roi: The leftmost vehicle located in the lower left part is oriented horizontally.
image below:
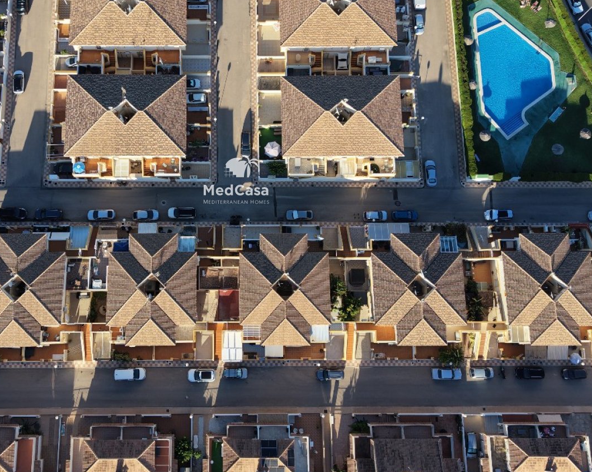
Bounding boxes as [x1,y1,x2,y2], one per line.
[111,367,147,383]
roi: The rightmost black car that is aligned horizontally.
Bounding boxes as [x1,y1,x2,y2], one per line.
[559,367,589,382]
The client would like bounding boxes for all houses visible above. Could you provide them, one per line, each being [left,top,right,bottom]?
[0,421,44,472]
[278,0,398,74]
[203,421,320,472]
[239,233,332,346]
[63,74,187,178]
[68,0,187,73]
[0,234,72,347]
[64,421,182,472]
[105,233,197,346]
[489,232,592,345]
[280,74,405,179]
[479,421,592,472]
[365,233,466,346]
